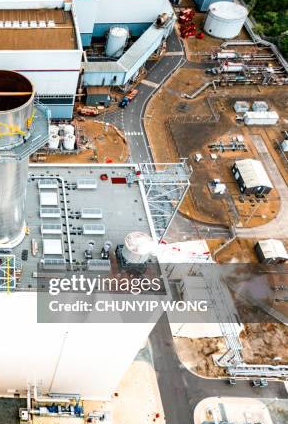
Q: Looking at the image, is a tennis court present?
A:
No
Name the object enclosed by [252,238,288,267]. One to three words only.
shed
